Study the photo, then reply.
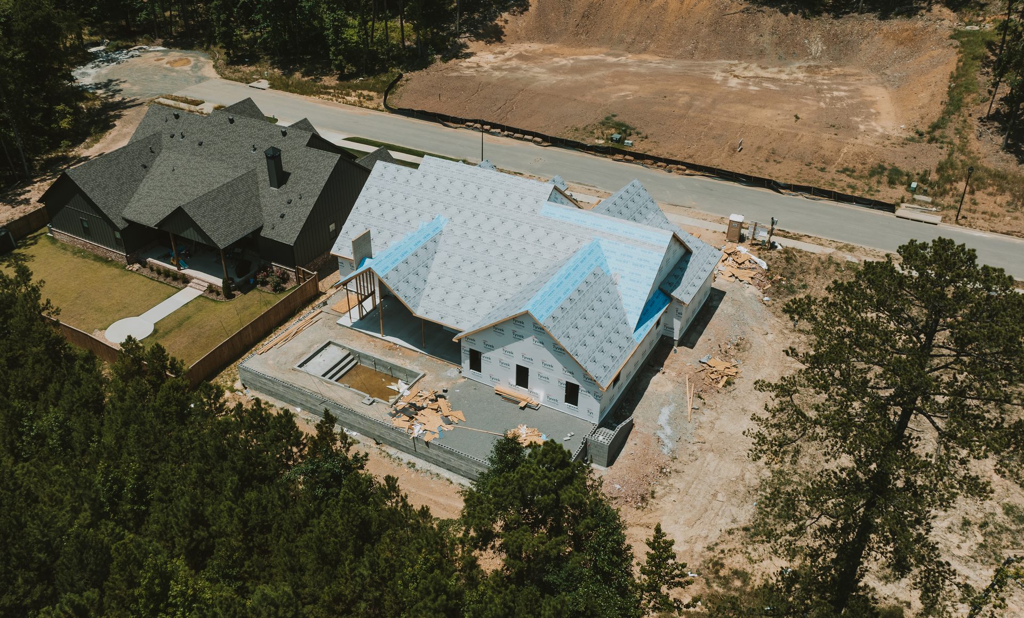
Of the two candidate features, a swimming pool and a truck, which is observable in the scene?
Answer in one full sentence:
The one in the frame is a swimming pool.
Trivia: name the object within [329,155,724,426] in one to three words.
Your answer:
house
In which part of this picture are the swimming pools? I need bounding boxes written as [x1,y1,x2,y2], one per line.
[293,339,424,406]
